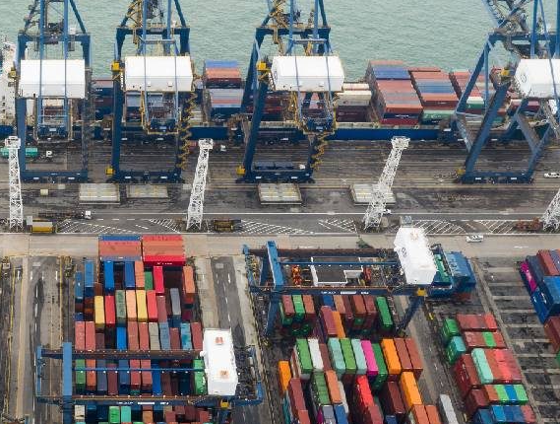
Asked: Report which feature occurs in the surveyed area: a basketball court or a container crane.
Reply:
container crane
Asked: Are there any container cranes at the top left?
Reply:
Yes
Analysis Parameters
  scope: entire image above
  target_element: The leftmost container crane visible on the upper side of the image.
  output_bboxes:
[7,0,100,180]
